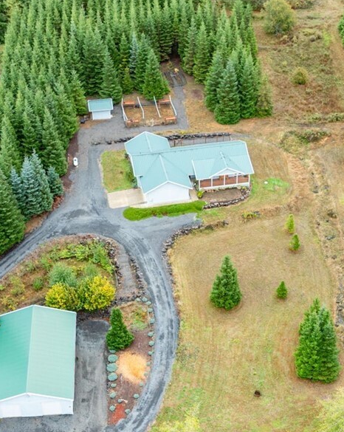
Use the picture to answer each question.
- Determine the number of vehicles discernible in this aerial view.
0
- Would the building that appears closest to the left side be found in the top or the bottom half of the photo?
bottom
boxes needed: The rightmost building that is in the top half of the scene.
[126,132,254,203]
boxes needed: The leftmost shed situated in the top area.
[88,97,113,120]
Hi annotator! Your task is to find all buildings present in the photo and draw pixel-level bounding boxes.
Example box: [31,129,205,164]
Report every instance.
[0,304,77,418]
[126,132,254,203]
[88,97,113,120]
